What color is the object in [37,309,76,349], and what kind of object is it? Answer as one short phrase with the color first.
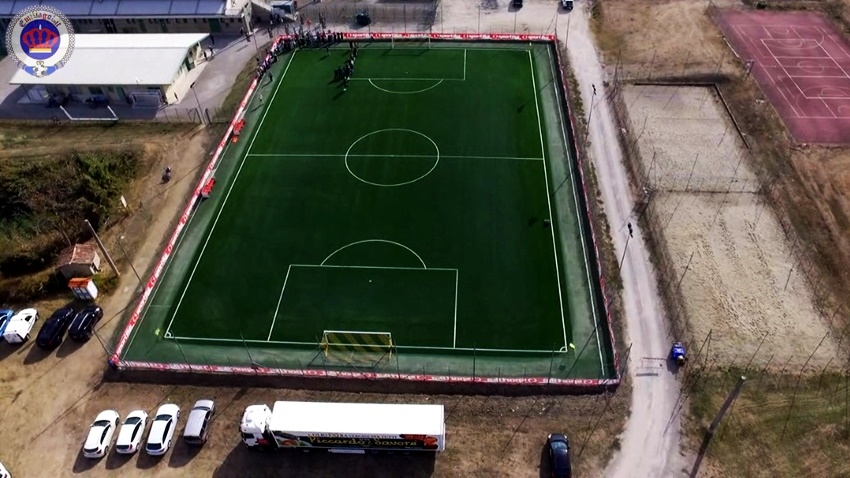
black car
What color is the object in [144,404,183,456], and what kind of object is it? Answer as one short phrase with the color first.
white car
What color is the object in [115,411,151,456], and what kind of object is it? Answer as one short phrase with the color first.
white car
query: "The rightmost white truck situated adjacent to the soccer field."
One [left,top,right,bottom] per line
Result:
[239,402,444,456]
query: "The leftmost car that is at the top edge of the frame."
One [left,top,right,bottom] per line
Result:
[356,12,373,24]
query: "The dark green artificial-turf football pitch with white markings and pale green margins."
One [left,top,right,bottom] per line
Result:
[106,41,619,387]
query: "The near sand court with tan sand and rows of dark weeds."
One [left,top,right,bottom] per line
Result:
[648,191,848,367]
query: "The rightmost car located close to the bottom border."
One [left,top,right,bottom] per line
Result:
[545,434,573,478]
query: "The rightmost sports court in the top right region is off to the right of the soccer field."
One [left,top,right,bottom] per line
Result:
[709,8,850,145]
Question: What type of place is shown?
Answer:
sports ground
